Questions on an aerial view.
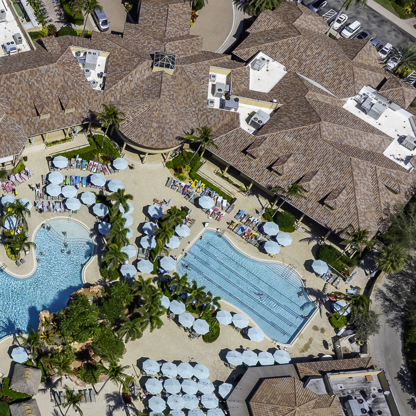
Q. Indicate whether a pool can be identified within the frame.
Yes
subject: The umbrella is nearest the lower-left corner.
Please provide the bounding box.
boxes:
[11,348,28,364]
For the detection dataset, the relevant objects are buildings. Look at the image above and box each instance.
[0,0,416,256]
[10,363,40,397]
[223,357,402,416]
[9,399,41,416]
